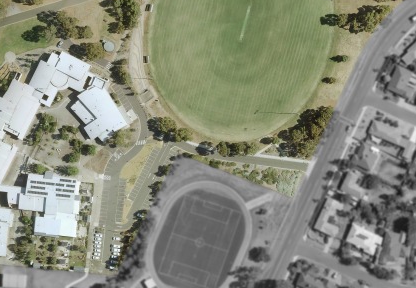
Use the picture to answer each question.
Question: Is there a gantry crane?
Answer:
No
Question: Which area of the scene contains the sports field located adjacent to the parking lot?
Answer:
bottom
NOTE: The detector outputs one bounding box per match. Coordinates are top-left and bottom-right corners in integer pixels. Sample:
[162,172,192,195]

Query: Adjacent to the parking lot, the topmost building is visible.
[28,50,90,108]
